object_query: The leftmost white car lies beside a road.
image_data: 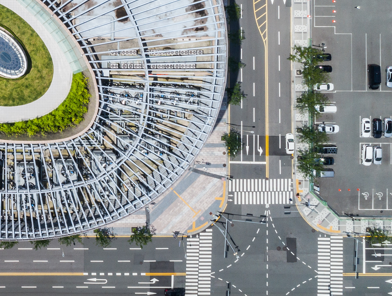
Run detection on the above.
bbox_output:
[283,133,296,154]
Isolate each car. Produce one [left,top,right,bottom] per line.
[313,65,333,74]
[382,117,392,138]
[371,118,383,138]
[283,133,296,154]
[311,52,333,62]
[373,147,383,164]
[385,66,392,87]
[314,103,339,114]
[313,82,334,91]
[361,144,374,166]
[318,124,339,134]
[368,65,382,89]
[314,156,334,165]
[315,145,337,154]
[360,118,372,138]
[313,167,336,178]
[165,287,185,296]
